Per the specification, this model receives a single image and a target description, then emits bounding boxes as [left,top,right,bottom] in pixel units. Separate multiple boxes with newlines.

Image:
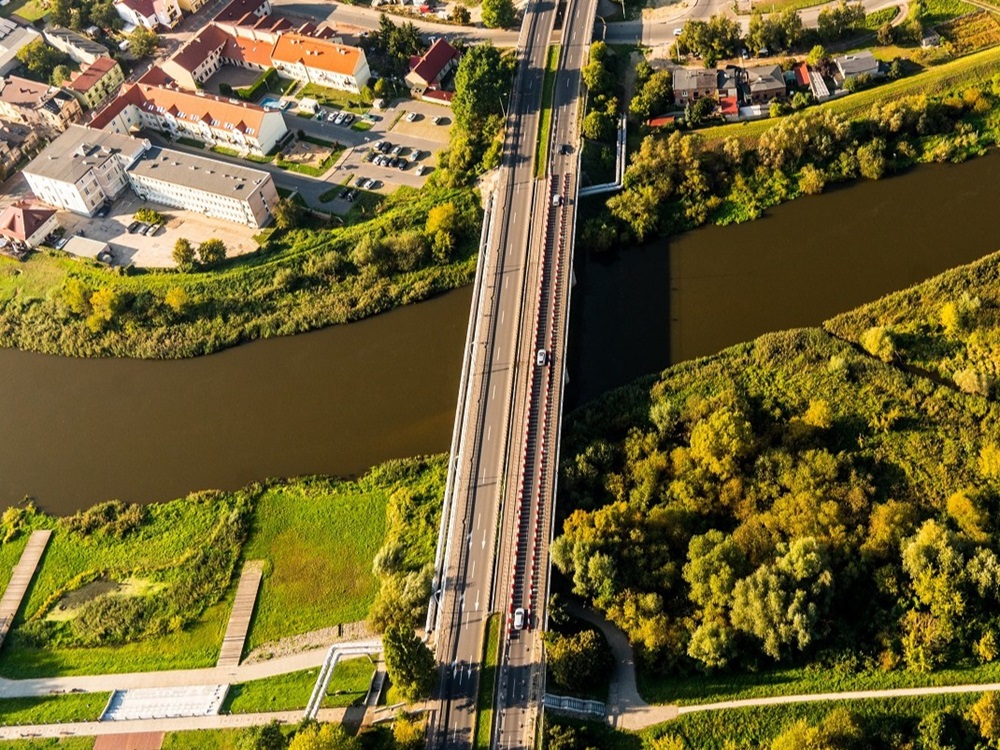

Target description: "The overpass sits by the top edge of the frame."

[517,0,597,58]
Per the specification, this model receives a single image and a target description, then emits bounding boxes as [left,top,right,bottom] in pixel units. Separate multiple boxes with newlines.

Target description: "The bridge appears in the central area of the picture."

[437,169,580,621]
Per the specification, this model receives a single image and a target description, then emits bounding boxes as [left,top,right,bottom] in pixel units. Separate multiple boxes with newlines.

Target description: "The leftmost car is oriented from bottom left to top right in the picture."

[53,236,68,250]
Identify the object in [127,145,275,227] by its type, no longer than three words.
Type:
building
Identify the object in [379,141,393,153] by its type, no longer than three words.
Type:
vehicle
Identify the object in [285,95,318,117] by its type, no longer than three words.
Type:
shed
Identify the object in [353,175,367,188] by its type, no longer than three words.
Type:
vehicle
